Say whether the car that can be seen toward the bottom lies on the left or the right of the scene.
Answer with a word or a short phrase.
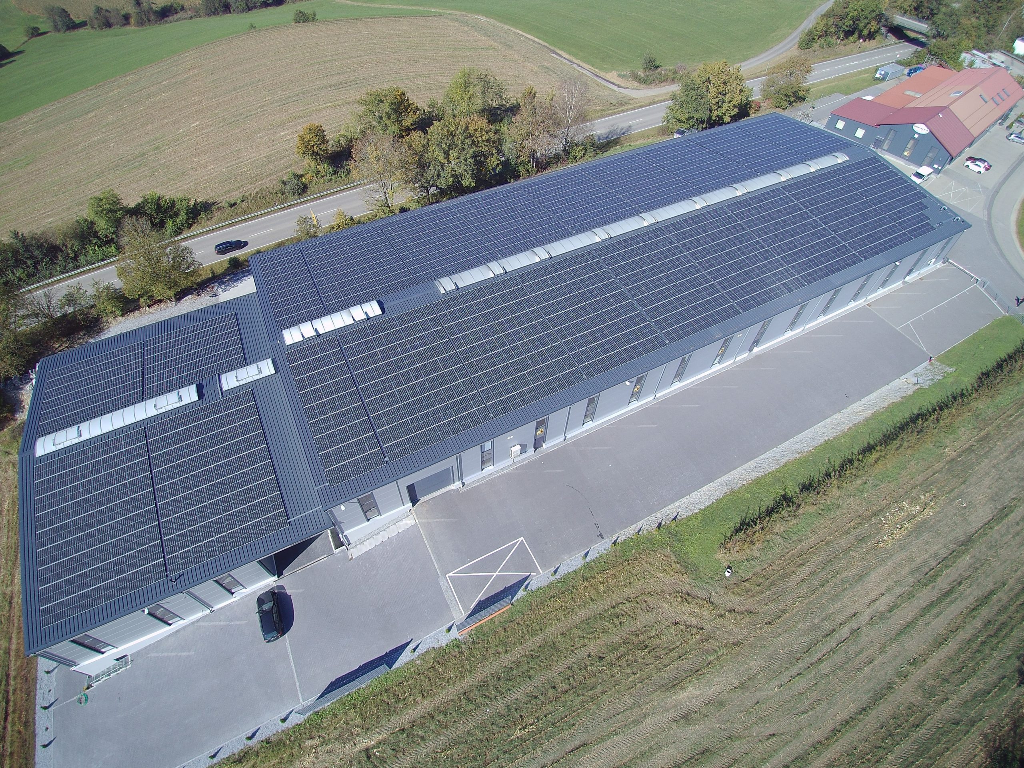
left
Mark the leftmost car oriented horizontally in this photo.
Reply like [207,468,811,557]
[211,238,247,256]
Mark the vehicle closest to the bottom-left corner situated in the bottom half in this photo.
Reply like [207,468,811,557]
[254,586,282,643]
